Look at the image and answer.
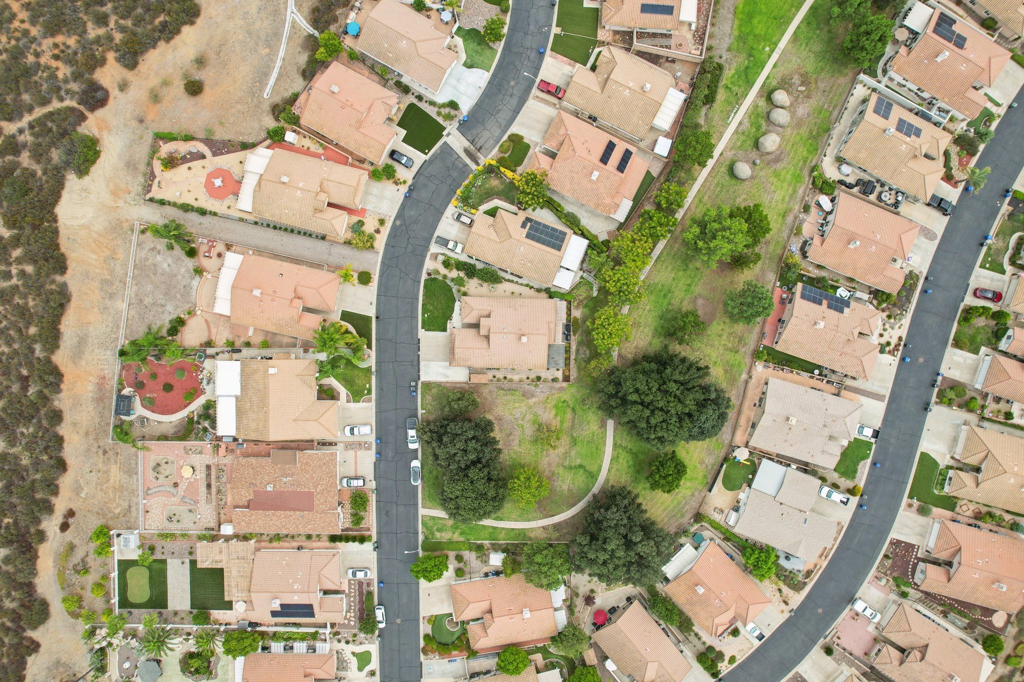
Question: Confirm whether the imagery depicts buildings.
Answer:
Yes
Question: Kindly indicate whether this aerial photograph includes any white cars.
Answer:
Yes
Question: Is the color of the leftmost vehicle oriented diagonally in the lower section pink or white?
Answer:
white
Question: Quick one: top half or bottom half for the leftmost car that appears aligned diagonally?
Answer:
top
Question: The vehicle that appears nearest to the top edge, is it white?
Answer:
No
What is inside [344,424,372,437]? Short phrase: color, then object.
white vehicle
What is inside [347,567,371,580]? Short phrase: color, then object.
white vehicle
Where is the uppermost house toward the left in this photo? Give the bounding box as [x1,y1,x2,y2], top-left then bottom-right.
[357,0,458,97]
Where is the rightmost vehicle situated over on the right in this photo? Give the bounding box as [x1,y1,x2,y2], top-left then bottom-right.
[972,288,1003,302]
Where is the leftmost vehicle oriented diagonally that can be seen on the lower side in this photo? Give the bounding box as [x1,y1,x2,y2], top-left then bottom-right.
[744,622,768,644]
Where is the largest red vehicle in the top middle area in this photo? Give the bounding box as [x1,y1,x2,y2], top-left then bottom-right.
[536,78,565,100]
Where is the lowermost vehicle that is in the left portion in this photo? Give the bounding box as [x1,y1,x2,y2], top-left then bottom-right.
[374,605,386,628]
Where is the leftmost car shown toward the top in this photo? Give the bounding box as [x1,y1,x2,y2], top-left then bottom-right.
[389,149,414,169]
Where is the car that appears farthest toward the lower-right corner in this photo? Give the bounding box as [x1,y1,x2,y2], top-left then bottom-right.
[850,597,884,624]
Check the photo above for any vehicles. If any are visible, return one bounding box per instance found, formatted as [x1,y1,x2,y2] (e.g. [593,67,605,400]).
[856,424,883,441]
[928,193,958,215]
[374,605,386,628]
[347,567,371,580]
[744,622,768,644]
[409,459,421,485]
[452,211,475,227]
[433,233,465,253]
[406,417,417,449]
[344,424,372,437]
[972,288,1003,302]
[536,78,565,100]
[341,476,366,488]
[850,597,884,624]
[818,485,852,507]
[389,149,414,169]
